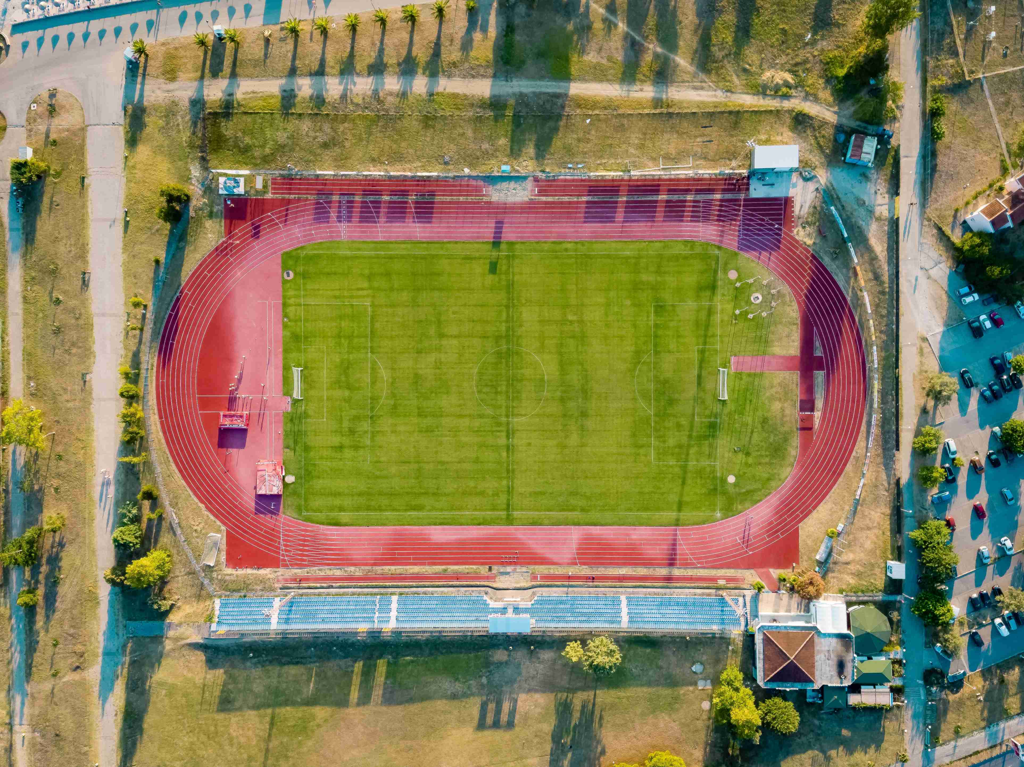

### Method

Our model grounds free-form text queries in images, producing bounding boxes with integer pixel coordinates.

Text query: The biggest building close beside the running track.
[751,619,854,688]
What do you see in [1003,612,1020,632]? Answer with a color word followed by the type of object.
blue car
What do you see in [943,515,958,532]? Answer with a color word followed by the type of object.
red car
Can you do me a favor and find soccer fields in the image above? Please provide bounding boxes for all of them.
[282,241,799,525]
